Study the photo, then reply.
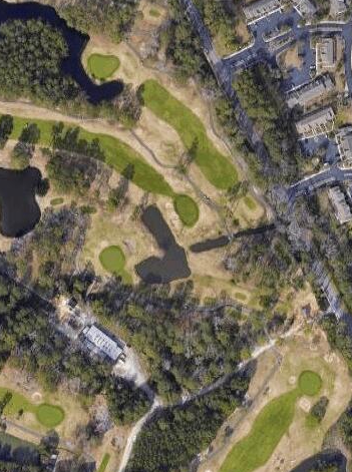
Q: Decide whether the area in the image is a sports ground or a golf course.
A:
golf course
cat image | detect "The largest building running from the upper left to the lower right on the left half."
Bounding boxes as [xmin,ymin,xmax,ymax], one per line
[84,326,124,363]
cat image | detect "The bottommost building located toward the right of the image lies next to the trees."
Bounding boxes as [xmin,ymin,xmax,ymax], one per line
[328,187,352,223]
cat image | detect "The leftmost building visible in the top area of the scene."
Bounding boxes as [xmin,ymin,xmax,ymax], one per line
[242,0,282,21]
